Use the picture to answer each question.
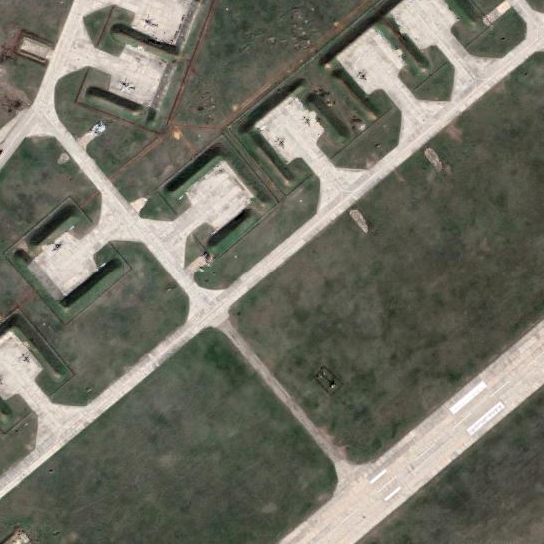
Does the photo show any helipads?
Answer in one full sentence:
Yes, a helipad appears in the view.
